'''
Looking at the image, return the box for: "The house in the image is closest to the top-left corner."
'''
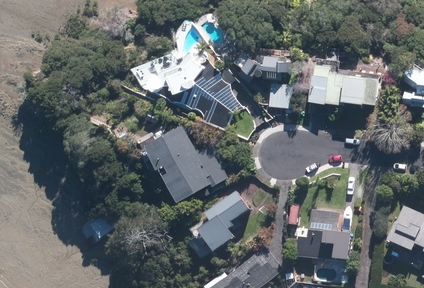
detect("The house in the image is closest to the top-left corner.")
[131,51,206,94]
